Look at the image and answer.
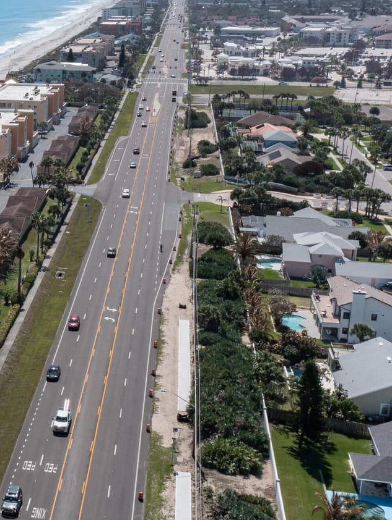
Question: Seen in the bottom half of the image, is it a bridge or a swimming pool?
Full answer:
What appears in the bottom half of the image is a swimming pool.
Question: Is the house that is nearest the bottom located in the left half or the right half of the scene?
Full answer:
The house that is nearest the bottom is on the right side of the image.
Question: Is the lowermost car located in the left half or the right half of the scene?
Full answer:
You can find the lowermost car on the left side of the picture.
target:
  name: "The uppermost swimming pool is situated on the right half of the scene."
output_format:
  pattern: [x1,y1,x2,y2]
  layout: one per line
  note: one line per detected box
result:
[257,256,281,272]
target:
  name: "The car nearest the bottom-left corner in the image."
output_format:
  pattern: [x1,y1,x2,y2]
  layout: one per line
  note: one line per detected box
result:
[2,483,23,513]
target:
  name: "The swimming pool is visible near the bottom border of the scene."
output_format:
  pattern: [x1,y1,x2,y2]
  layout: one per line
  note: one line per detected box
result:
[327,490,392,520]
